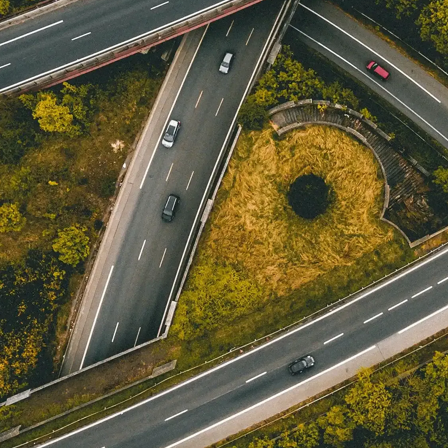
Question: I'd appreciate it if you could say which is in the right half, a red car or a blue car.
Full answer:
What appears in the right half is a red car.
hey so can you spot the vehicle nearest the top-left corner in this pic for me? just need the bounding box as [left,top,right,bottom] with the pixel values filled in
[162,120,180,147]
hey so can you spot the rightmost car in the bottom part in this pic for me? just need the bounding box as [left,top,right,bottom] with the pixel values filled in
[286,354,316,376]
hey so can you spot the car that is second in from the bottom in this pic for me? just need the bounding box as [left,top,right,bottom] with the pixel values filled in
[161,193,179,222]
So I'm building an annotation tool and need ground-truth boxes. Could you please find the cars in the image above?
[162,120,180,147]
[286,354,316,376]
[219,51,235,75]
[366,61,390,80]
[161,193,179,222]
